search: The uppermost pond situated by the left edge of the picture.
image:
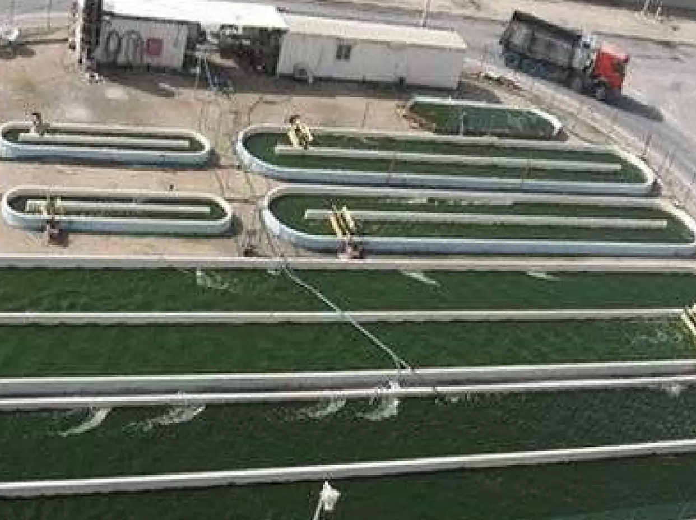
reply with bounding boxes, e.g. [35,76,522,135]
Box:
[0,121,211,166]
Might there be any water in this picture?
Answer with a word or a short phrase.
Yes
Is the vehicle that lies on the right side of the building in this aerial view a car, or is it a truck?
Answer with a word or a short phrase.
truck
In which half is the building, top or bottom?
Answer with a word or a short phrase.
top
